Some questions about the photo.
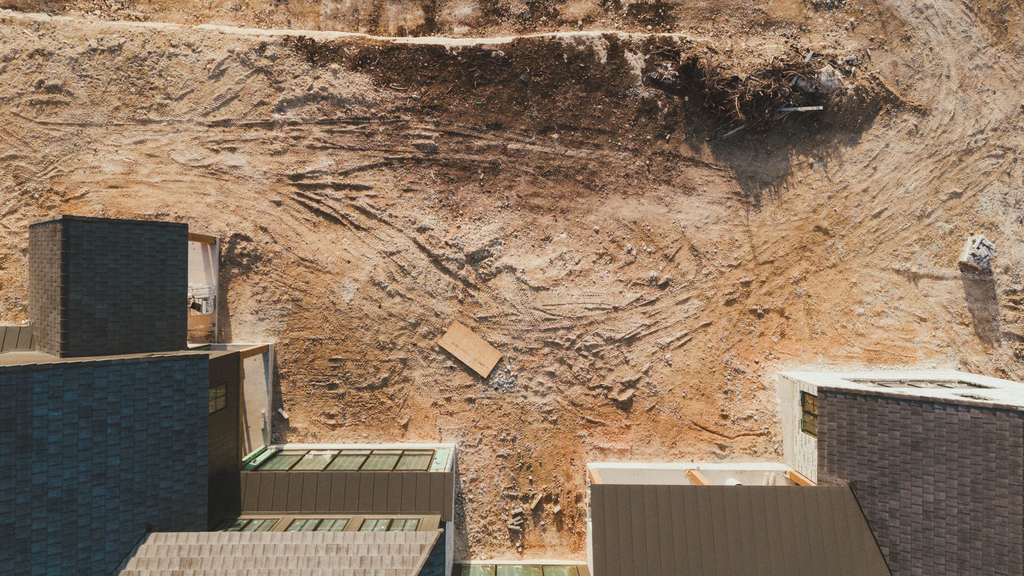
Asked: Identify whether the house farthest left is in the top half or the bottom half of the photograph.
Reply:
bottom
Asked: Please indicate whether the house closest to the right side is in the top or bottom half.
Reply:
bottom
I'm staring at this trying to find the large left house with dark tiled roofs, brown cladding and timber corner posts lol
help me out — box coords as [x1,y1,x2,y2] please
[0,213,455,576]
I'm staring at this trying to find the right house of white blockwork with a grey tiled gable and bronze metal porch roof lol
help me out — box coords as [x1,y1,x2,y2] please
[586,372,1024,576]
